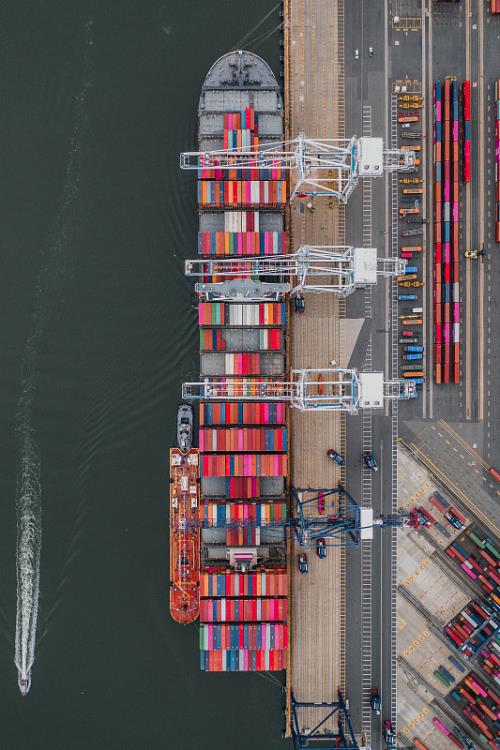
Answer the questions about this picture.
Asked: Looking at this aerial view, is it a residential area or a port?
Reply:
port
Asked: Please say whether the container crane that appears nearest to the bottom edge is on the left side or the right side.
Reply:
right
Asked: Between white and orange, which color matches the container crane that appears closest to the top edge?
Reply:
white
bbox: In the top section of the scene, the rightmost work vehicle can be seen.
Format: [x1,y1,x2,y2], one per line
[464,242,488,263]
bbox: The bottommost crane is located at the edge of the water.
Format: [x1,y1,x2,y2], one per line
[291,678,372,750]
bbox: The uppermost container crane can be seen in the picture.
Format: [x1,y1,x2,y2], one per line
[180,132,421,207]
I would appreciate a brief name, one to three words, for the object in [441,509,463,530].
work vehicle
